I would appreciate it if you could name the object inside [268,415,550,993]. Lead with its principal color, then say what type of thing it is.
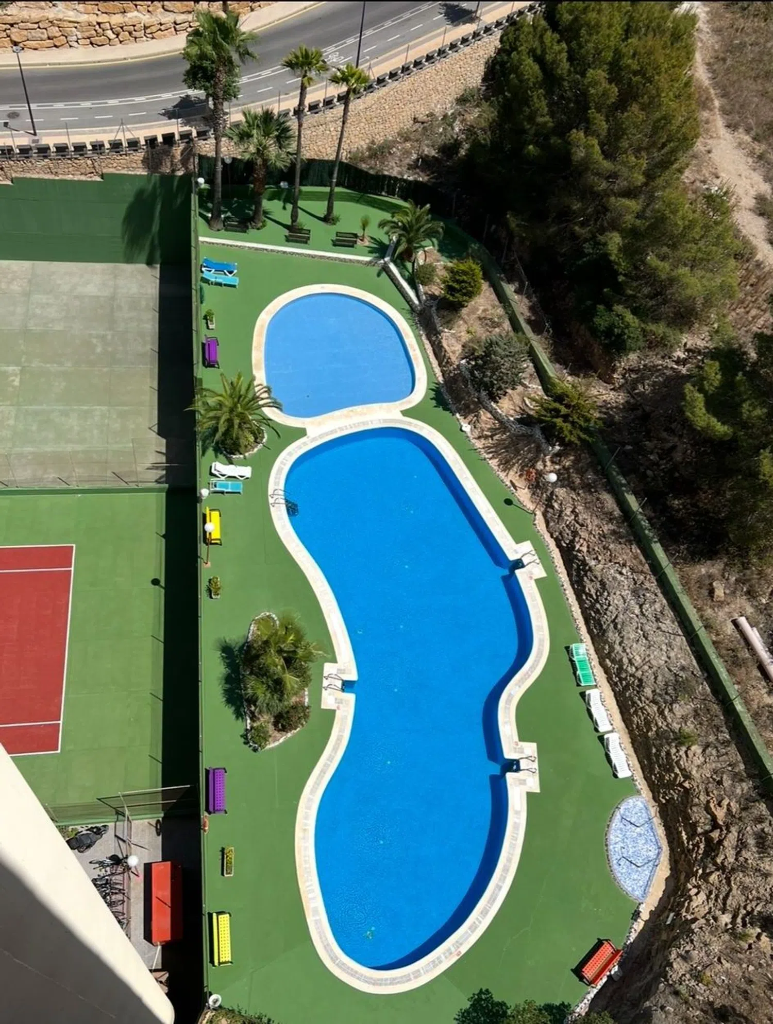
blue swimming pool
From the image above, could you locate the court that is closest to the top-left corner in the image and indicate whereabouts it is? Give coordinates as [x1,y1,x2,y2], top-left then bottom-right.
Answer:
[0,259,197,494]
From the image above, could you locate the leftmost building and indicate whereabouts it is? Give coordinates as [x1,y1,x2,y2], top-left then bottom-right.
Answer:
[0,745,169,1024]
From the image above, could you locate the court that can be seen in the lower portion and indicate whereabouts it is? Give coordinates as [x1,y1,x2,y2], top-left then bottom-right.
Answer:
[0,491,202,821]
